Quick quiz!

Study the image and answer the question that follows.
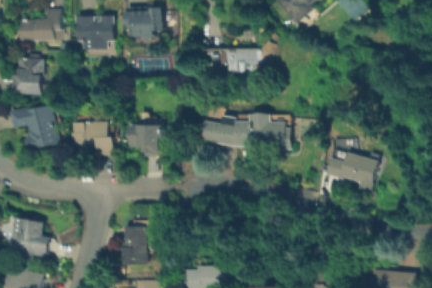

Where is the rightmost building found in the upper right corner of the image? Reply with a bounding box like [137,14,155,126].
[339,0,370,22]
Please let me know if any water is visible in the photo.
No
